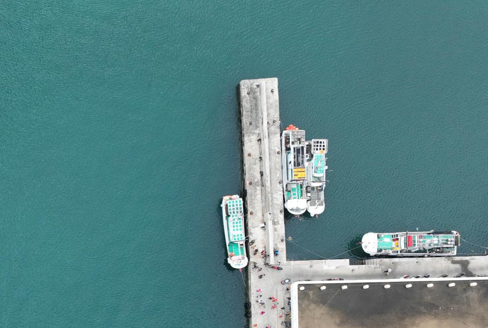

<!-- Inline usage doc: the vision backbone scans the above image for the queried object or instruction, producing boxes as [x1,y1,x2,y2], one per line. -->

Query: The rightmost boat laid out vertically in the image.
[306,139,332,225]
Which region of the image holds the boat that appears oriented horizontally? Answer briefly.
bottom right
